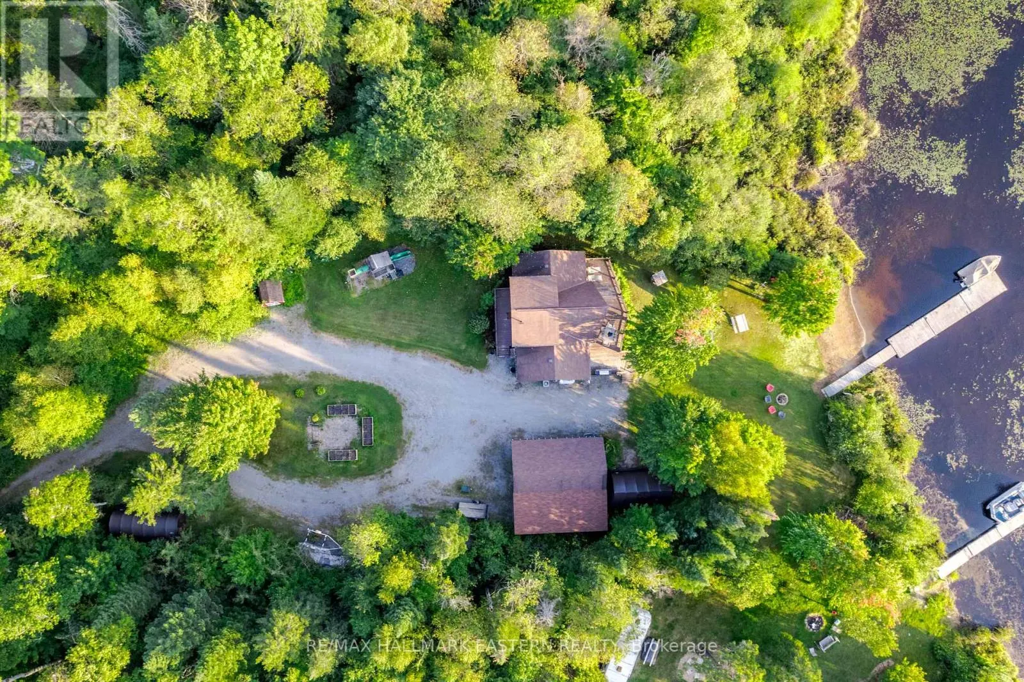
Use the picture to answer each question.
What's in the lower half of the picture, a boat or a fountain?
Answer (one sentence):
There is a boat in the lower half of the picture.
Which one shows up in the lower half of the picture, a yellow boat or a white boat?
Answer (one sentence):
The feature located in the lower half of the picture is a white boat.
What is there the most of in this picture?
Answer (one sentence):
For the most part, this view shows trees.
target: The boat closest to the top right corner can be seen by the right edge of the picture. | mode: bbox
[956,257,1004,287]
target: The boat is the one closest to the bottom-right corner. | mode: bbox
[994,481,1024,519]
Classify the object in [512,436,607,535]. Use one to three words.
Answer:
building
